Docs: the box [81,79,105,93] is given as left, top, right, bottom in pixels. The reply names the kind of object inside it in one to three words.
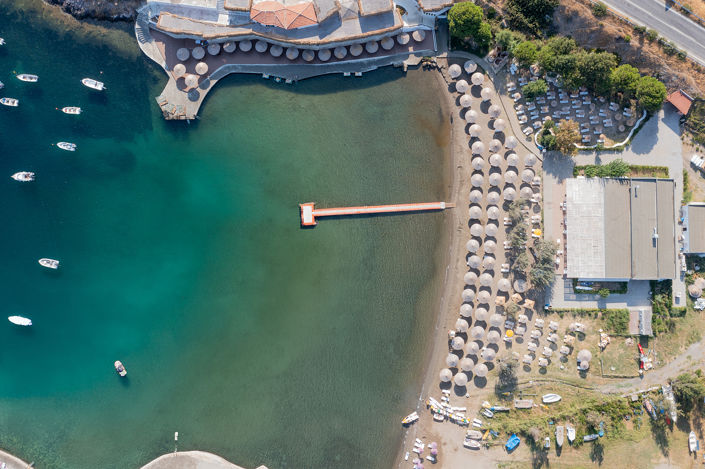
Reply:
boat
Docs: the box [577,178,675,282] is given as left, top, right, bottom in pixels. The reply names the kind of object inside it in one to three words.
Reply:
building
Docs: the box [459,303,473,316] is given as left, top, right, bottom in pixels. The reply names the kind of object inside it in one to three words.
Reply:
umbrella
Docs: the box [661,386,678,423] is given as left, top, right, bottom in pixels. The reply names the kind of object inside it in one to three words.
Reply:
boat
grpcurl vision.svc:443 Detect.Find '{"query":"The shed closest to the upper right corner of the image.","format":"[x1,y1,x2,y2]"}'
[664,87,696,114]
